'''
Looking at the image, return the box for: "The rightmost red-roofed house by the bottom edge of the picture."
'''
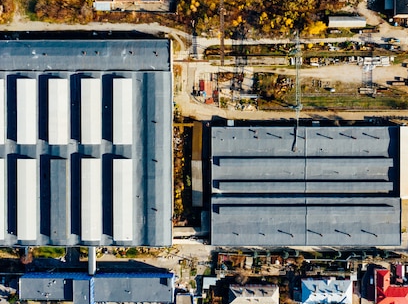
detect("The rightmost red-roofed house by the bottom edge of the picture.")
[372,267,408,304]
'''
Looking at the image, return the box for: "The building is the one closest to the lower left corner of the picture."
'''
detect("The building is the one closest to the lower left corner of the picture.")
[19,273,76,300]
